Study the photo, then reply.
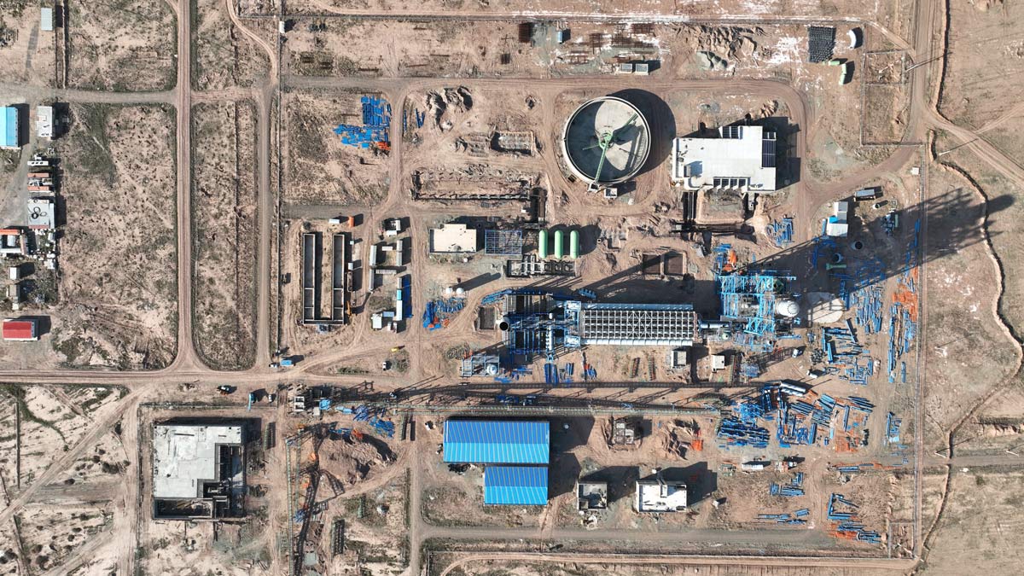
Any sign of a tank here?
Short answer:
Yes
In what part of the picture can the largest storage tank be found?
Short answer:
top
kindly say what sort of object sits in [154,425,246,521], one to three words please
building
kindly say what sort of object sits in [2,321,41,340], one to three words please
house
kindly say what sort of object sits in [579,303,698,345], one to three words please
building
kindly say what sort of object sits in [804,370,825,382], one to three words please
vehicle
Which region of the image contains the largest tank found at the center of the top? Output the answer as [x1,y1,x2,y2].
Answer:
[560,95,651,192]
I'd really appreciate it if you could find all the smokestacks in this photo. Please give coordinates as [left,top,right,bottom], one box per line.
[496,312,512,330]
